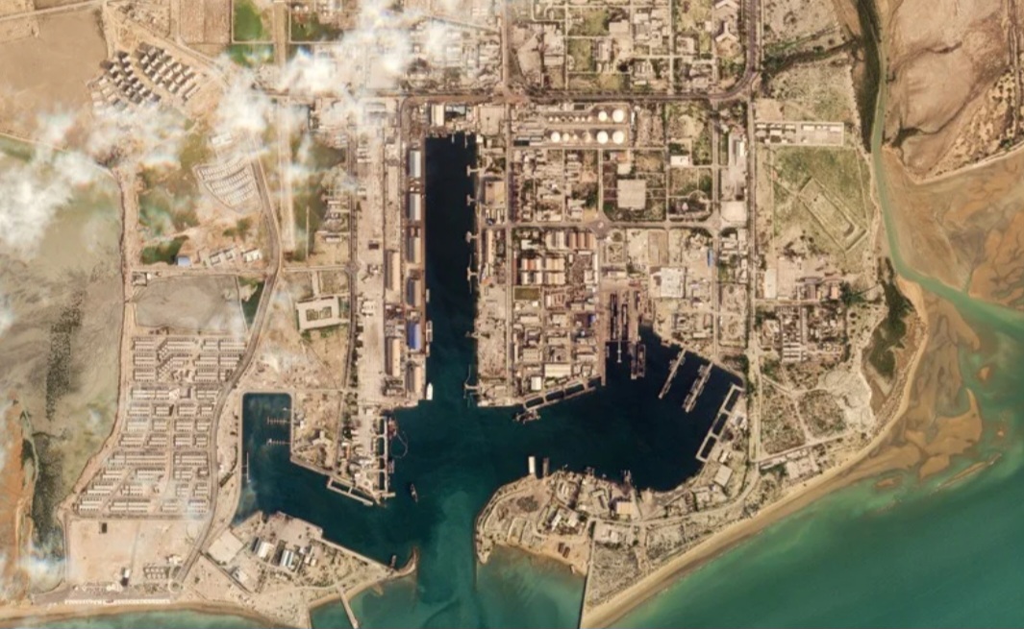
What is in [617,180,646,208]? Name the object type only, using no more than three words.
building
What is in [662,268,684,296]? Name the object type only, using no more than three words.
building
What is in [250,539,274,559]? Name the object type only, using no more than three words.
hangar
